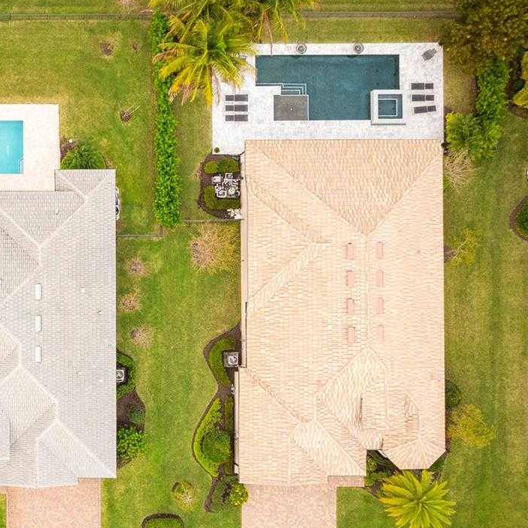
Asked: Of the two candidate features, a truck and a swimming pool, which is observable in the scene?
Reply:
swimming pool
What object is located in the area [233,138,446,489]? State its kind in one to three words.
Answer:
house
